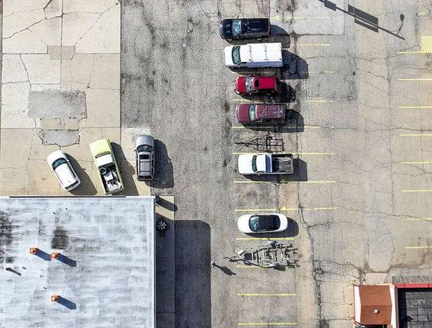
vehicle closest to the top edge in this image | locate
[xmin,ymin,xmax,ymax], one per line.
[221,18,270,41]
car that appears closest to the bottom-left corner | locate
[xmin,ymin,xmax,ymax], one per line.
[50,151,80,192]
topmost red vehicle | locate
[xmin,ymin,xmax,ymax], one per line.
[235,76,280,97]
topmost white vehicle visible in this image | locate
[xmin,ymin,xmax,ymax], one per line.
[225,44,284,68]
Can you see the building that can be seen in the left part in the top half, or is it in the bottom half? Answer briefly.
bottom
